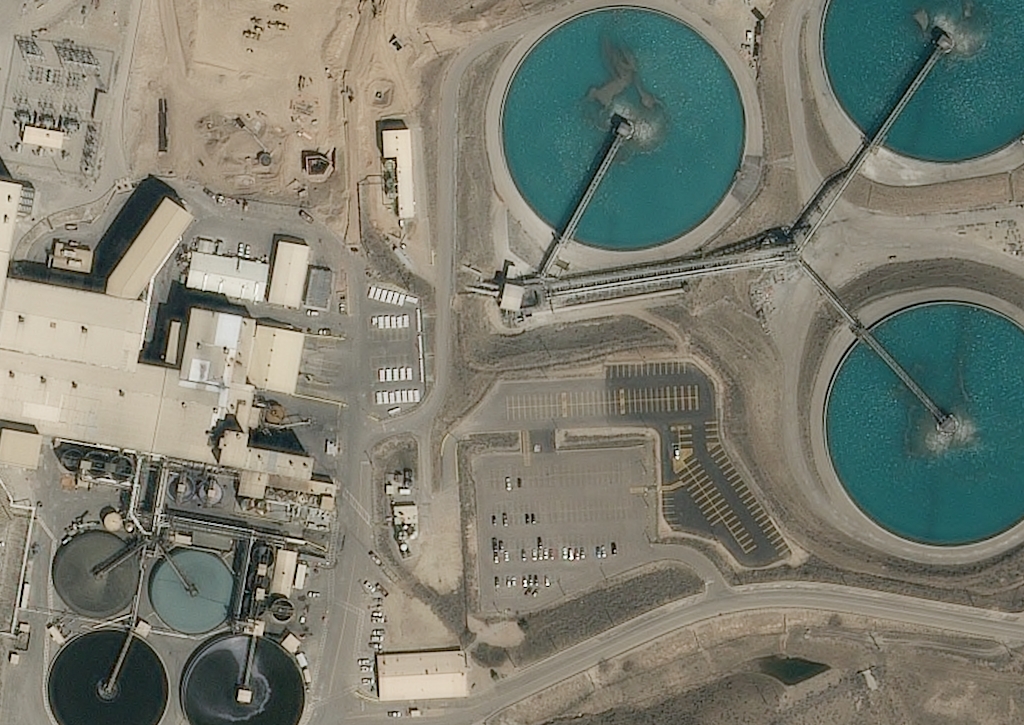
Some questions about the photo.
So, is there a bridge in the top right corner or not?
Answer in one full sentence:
Yes, in the top right corner there is a bridge.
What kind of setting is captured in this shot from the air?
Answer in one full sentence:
The picture captures an industrial area.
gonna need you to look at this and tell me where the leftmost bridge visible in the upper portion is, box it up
[538,132,619,283]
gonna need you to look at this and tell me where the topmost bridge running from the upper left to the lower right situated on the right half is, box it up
[798,256,944,421]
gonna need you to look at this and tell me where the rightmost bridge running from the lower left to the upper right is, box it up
[796,45,938,246]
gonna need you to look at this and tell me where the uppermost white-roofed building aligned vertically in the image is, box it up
[383,129,414,218]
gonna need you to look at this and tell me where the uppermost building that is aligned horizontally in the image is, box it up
[23,126,64,150]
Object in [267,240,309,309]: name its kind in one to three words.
building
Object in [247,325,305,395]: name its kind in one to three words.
shed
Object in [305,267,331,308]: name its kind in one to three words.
shed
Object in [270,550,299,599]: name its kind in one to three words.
building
